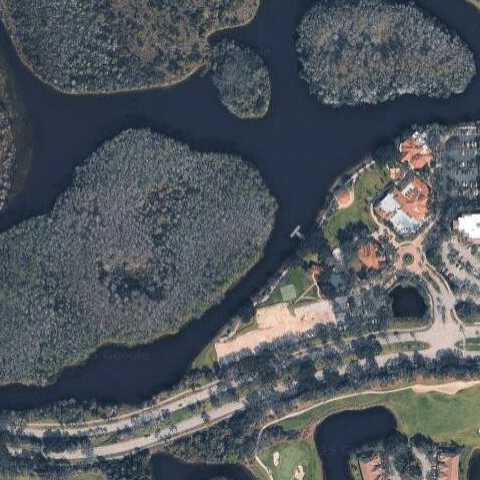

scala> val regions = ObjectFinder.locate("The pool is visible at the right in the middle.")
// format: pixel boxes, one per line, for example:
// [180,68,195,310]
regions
[390,207,421,233]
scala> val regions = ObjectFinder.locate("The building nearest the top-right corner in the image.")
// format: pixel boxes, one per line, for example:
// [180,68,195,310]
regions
[396,131,434,172]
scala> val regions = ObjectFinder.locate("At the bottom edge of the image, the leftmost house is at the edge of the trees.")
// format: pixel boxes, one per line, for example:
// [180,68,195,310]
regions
[358,456,382,480]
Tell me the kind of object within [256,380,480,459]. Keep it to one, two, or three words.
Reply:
golf course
